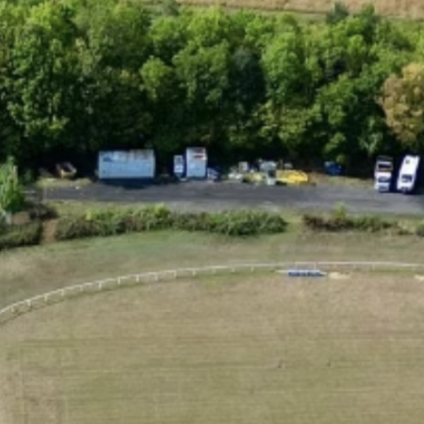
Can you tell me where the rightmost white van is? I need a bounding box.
[396,152,424,189]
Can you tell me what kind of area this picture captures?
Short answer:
sports ground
